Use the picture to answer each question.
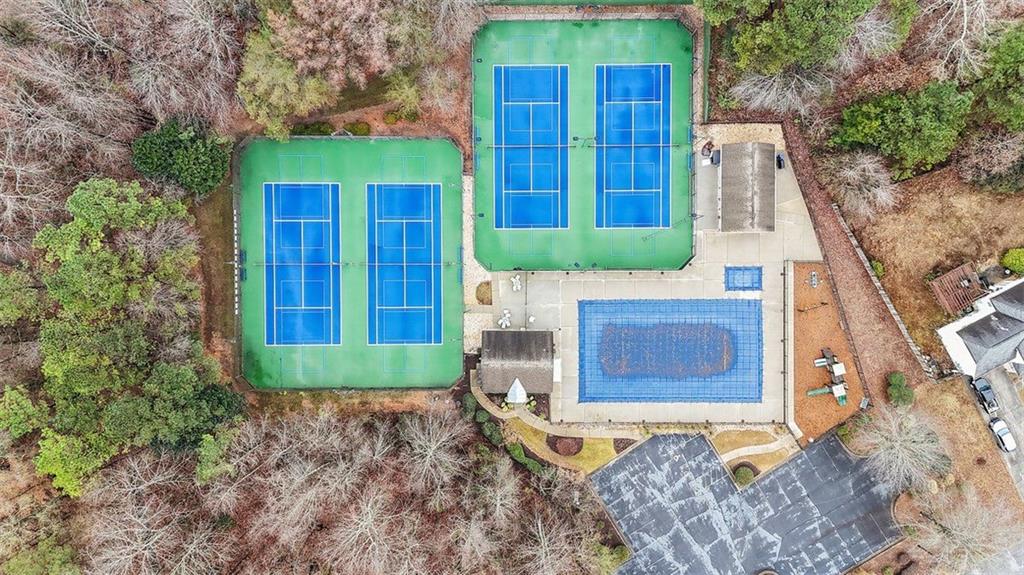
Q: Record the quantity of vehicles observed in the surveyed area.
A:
two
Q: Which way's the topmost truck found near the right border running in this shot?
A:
at an angle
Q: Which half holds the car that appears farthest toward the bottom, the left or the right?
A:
right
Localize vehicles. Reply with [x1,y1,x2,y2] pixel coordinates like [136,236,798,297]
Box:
[991,419,1016,454]
[970,378,1003,416]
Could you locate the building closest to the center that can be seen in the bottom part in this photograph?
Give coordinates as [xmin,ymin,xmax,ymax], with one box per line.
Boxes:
[480,329,554,405]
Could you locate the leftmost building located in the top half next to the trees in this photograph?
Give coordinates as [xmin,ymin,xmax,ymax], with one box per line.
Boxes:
[719,140,776,232]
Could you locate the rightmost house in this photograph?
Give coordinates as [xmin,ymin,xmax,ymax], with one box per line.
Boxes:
[936,272,1024,391]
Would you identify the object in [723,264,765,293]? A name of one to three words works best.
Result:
swimming pool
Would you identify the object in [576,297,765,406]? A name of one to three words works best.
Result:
swimming pool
